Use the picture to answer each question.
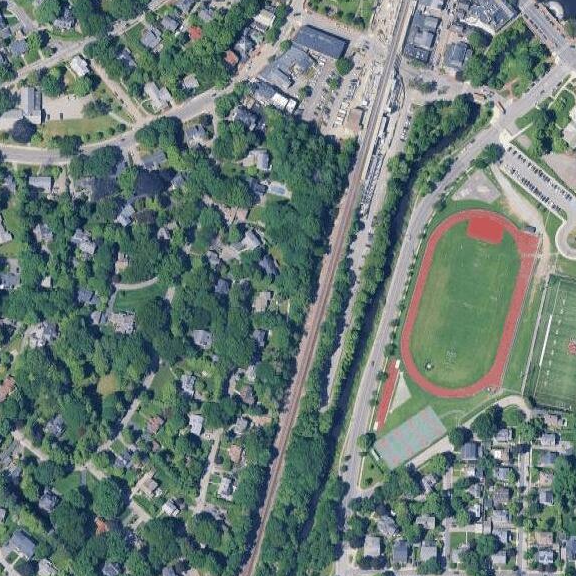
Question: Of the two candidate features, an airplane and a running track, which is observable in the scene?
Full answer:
There is a running track in the scene.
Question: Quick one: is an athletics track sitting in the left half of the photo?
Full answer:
No, I see no athletics track in the left half of the photo.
